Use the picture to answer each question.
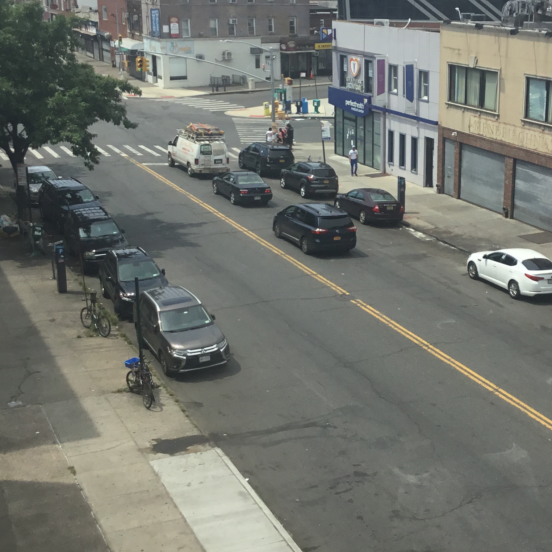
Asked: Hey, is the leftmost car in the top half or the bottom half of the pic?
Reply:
top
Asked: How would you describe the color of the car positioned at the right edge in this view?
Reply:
white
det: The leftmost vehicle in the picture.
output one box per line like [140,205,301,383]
[20,167,62,204]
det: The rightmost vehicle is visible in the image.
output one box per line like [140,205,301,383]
[460,245,552,300]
